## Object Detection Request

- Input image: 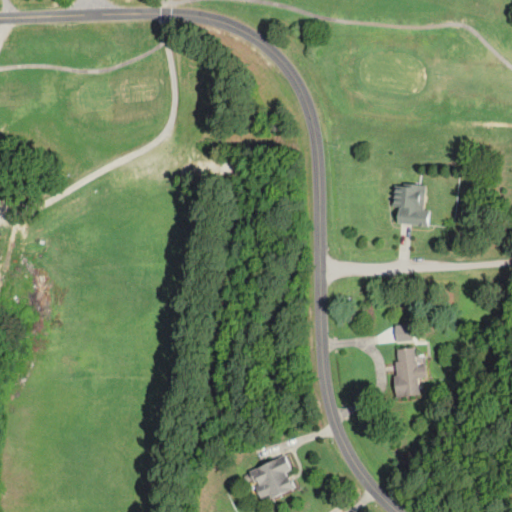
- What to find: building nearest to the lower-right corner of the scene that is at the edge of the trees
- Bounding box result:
[392,346,428,398]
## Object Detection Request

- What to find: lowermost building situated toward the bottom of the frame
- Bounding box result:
[250,456,298,501]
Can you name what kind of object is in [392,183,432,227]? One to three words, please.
house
